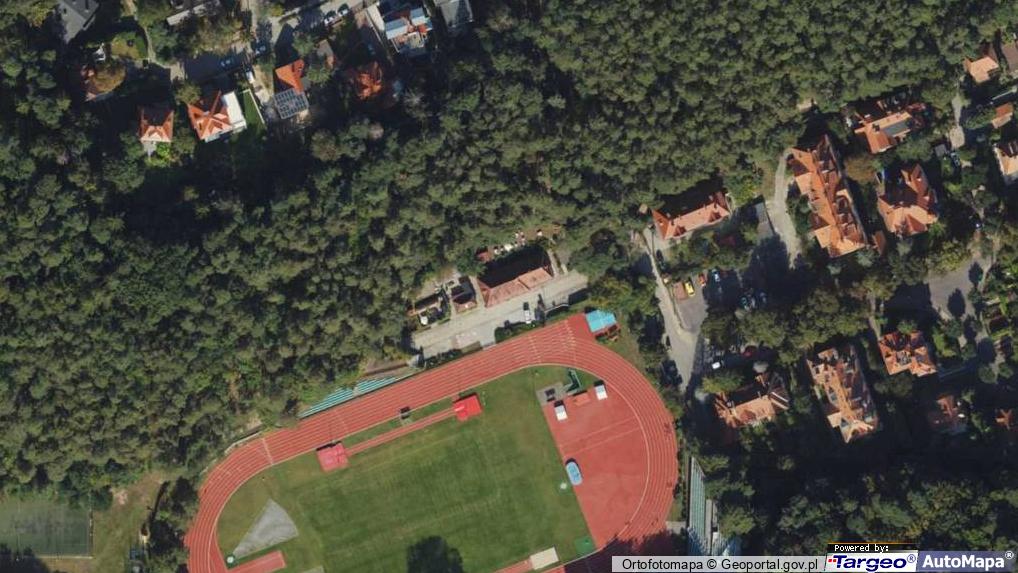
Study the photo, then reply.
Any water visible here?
No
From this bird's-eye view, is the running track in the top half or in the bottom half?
bottom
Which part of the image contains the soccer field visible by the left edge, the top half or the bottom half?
bottom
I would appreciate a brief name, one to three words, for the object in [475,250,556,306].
house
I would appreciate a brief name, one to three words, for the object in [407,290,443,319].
shed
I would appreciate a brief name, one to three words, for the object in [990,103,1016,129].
building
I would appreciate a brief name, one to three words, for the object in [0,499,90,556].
soccer field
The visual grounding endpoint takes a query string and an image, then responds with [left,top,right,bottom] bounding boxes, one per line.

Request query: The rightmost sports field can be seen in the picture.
[211,364,601,573]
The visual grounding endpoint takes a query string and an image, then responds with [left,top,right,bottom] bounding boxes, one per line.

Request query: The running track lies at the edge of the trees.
[182,312,680,573]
